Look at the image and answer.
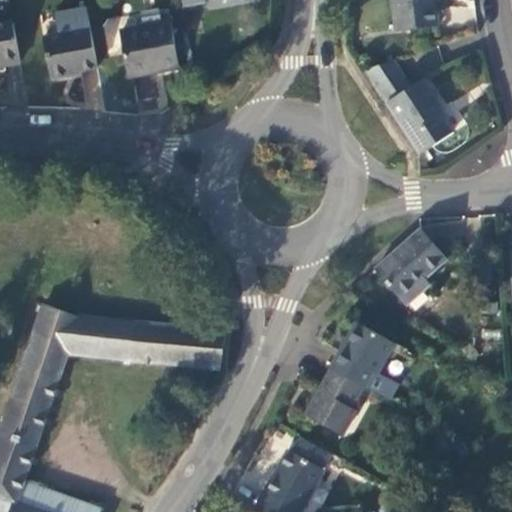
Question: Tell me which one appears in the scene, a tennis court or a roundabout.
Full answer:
The one in the frame is a roundabout.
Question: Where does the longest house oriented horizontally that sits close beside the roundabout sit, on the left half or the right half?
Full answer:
The longest house oriented horizontally that sits close beside the roundabout is on the left side of the image.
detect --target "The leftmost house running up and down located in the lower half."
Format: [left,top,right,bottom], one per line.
[0,302,79,508]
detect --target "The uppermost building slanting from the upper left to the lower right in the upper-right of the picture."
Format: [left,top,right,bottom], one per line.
[368,52,453,158]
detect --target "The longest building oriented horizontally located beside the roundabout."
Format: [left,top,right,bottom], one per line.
[53,312,224,372]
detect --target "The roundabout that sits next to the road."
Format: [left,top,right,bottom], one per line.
[199,97,369,267]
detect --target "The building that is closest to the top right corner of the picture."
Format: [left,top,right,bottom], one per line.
[390,0,441,30]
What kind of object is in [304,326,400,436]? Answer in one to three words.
house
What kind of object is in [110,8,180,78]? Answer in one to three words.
house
